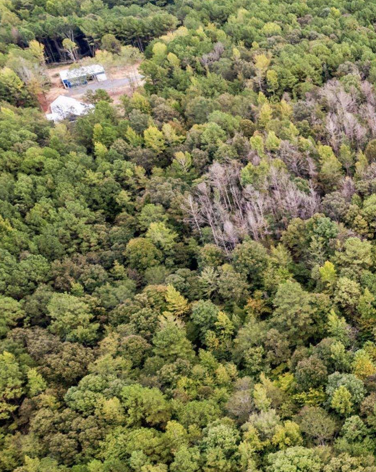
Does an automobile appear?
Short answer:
No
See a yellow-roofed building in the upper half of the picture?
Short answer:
No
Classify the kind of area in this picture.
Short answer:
forest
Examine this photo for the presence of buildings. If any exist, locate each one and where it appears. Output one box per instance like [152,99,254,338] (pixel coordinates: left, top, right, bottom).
[44,96,94,127]
[61,61,108,89]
